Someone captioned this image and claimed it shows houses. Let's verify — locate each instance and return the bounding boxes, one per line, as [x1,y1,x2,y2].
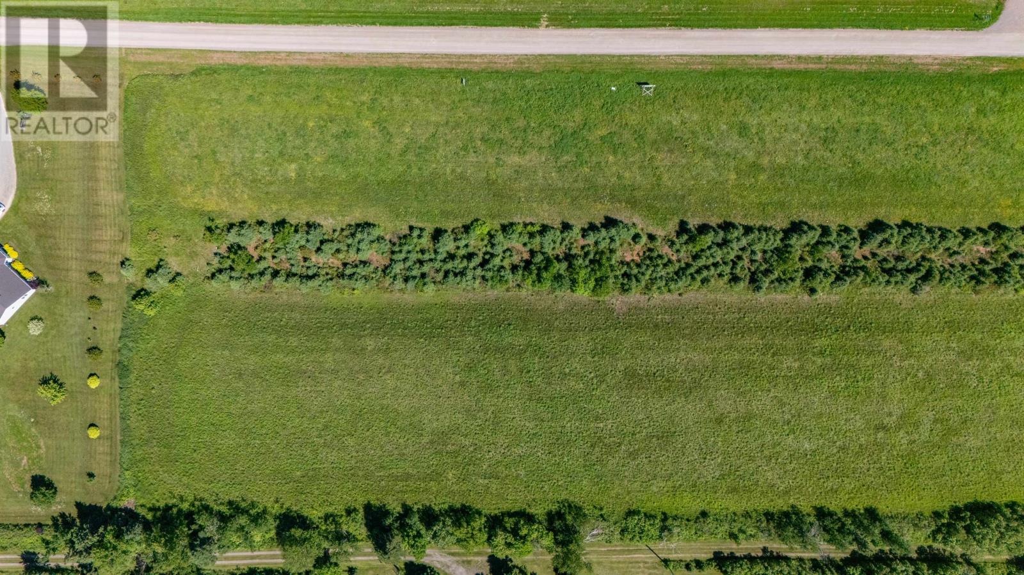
[0,246,38,326]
